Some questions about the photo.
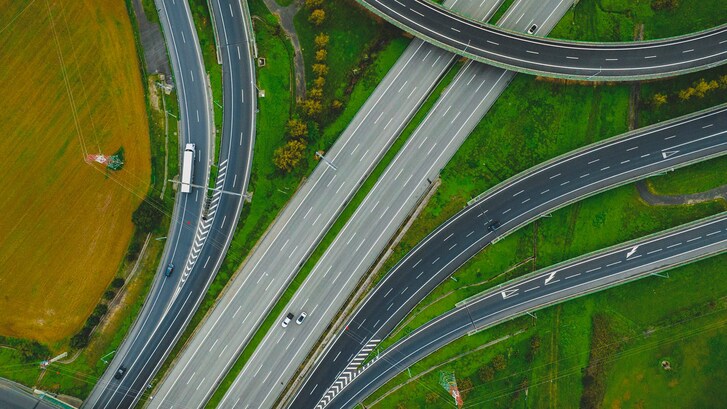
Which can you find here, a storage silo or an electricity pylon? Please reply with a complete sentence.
The one in the frame is an electricity pylon.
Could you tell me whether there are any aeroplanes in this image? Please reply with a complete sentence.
No, there is no aeroplane in the image.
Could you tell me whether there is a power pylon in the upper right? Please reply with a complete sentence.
No, no power pylon can be made out in the upper right.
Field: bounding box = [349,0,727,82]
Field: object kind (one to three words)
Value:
overpass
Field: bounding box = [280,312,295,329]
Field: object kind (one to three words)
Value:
vehicle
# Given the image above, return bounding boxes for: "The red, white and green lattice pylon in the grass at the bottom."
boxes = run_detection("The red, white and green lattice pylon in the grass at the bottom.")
[438,368,466,406]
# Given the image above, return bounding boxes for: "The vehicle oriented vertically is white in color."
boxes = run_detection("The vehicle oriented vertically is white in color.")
[179,142,193,192]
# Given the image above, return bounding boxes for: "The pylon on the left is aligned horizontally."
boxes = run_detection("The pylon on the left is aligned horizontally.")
[80,151,119,168]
